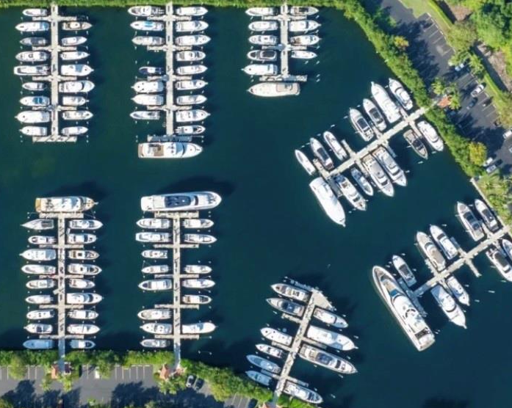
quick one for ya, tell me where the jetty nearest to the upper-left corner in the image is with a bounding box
[32,4,75,141]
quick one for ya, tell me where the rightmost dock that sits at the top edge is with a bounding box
[261,0,307,81]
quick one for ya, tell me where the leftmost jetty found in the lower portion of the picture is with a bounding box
[38,212,83,377]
